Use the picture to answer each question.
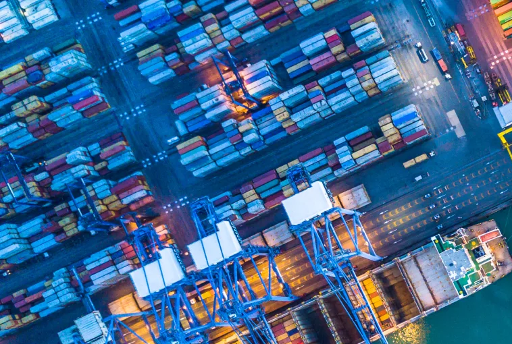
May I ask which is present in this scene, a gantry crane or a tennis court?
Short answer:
gantry crane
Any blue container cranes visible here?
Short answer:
Yes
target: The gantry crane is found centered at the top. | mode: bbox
[209,48,270,113]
